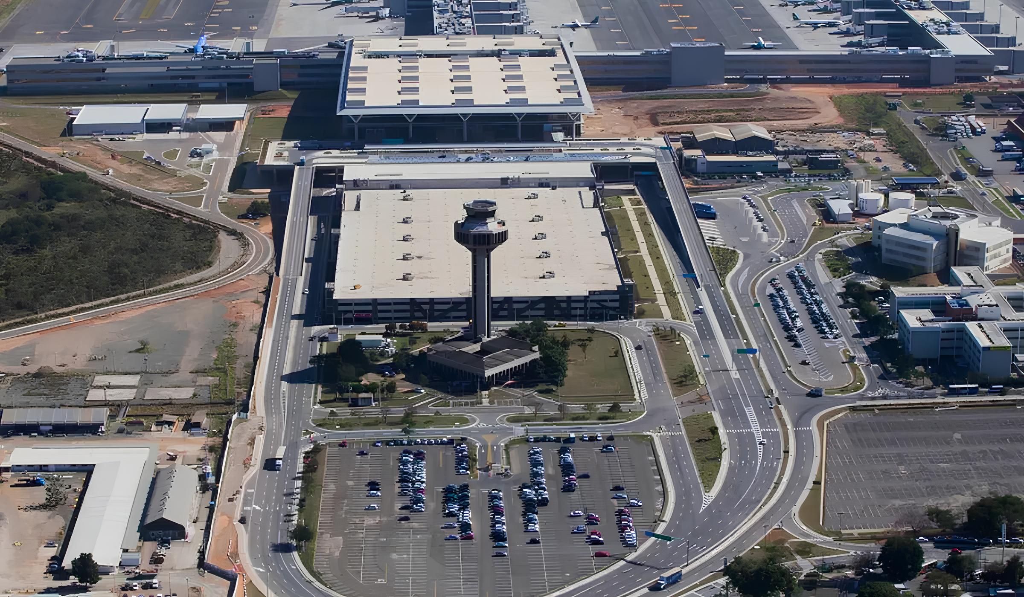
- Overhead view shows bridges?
Yes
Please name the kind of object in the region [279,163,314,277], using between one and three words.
bridge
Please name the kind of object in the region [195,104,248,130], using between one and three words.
shed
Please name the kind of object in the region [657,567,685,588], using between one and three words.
truck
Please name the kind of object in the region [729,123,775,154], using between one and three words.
hangar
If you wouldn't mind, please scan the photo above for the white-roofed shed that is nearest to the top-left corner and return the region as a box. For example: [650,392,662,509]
[73,105,150,135]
